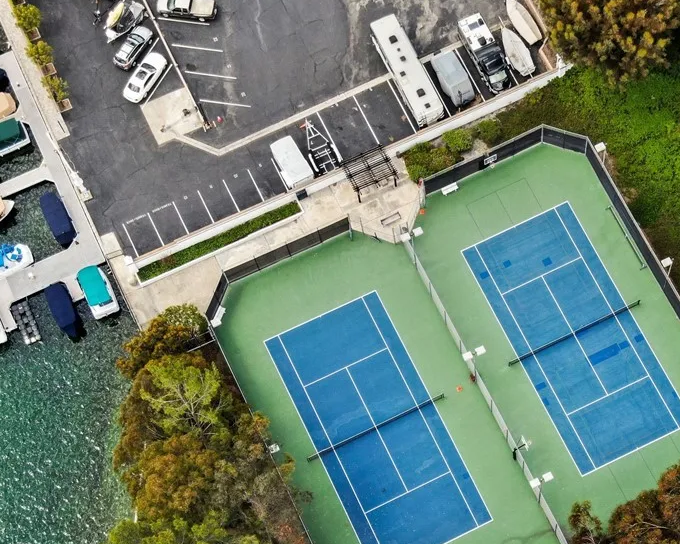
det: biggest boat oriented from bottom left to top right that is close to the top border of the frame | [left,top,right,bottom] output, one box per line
[105,3,150,47]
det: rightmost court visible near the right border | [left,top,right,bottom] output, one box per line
[409,144,680,544]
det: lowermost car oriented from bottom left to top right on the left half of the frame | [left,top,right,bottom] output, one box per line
[122,55,169,103]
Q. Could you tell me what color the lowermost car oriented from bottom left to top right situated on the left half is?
white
